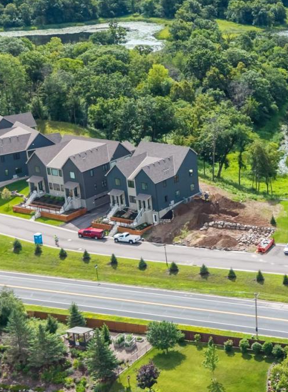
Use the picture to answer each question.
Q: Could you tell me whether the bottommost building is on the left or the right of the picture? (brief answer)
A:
left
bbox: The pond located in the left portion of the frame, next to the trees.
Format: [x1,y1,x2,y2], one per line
[8,21,161,50]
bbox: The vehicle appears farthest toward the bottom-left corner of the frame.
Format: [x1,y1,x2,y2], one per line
[78,227,109,240]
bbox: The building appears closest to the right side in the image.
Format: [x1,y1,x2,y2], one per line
[91,144,203,224]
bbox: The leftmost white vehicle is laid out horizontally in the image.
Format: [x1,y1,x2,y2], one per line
[113,232,143,245]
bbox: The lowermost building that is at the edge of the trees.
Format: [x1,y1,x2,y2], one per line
[62,327,91,351]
